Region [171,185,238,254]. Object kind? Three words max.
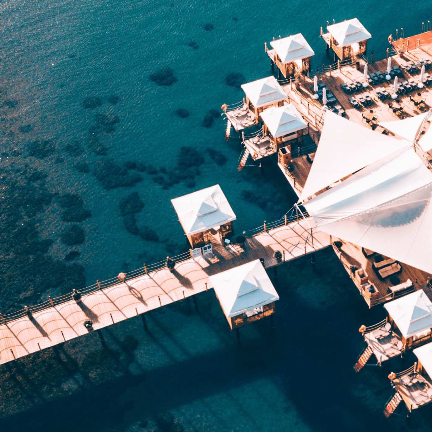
shed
